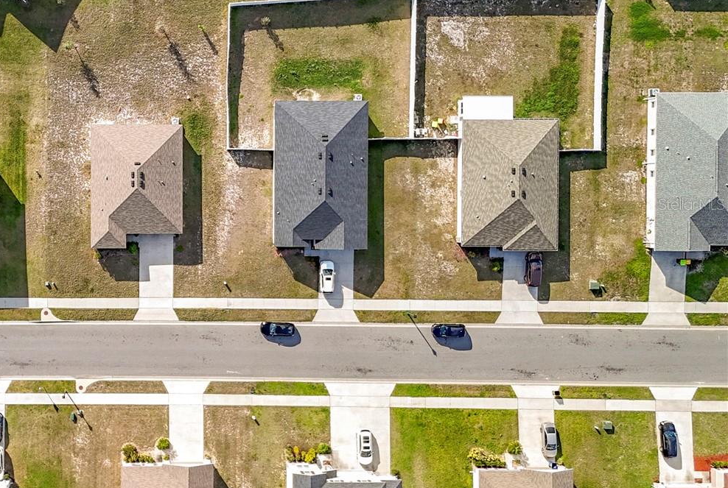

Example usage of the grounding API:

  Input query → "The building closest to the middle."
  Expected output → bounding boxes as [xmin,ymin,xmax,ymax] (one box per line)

[273,100,369,250]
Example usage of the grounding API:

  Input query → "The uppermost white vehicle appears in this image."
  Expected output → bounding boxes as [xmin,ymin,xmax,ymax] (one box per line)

[319,257,336,291]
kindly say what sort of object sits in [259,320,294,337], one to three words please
car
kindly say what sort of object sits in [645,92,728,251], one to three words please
house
